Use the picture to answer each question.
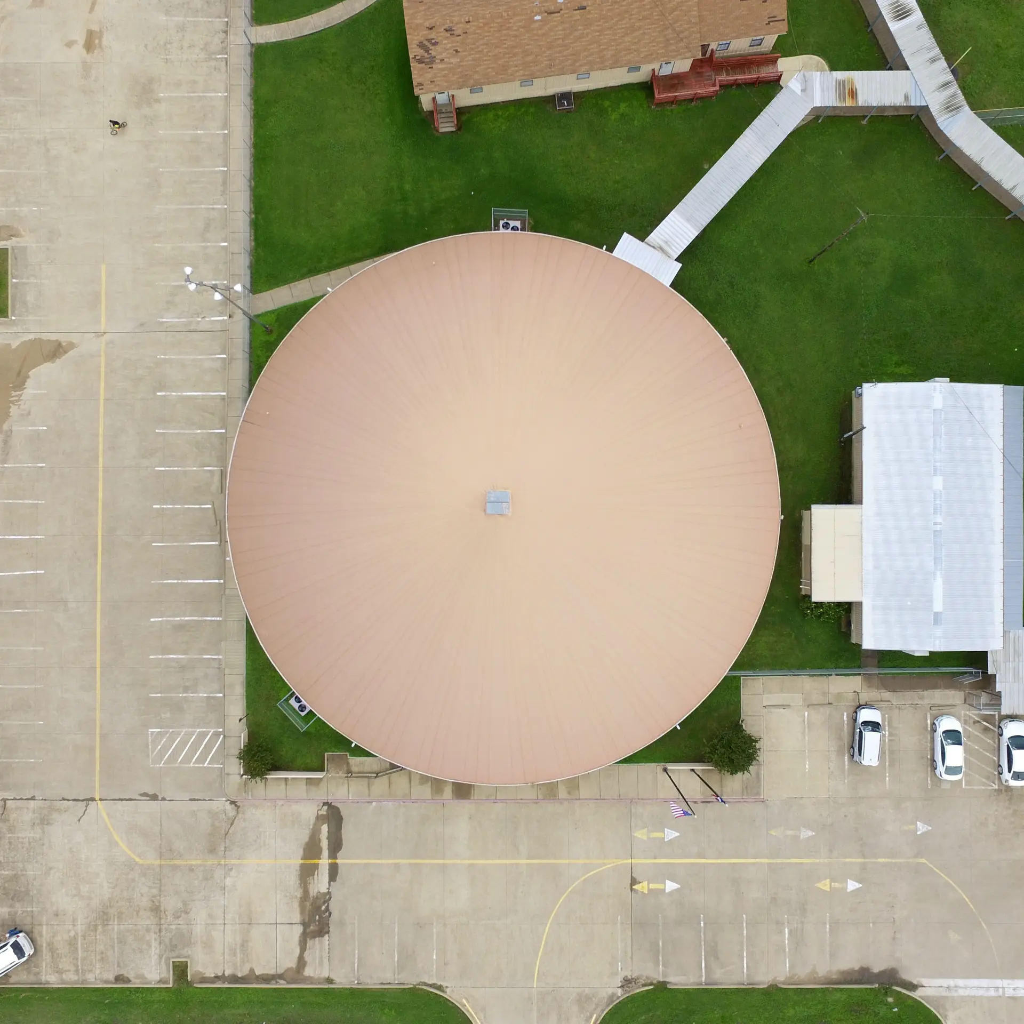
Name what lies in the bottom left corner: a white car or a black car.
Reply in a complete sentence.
There is a white car in the bottom left corner.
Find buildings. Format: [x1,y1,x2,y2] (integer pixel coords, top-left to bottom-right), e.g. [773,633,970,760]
[227,232,782,787]
[851,378,1024,655]
[402,0,788,110]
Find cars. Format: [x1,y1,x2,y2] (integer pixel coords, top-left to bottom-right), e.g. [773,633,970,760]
[931,712,967,781]
[0,931,38,977]
[849,703,884,766]
[998,716,1024,785]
